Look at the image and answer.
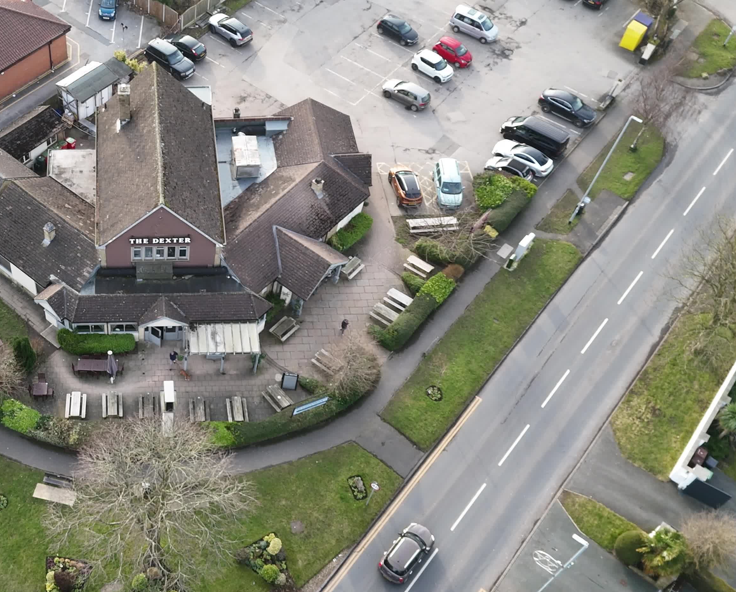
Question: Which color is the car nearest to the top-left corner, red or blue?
blue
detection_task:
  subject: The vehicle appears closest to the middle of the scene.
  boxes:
[386,164,423,208]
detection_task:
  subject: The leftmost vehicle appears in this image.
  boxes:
[98,0,119,21]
